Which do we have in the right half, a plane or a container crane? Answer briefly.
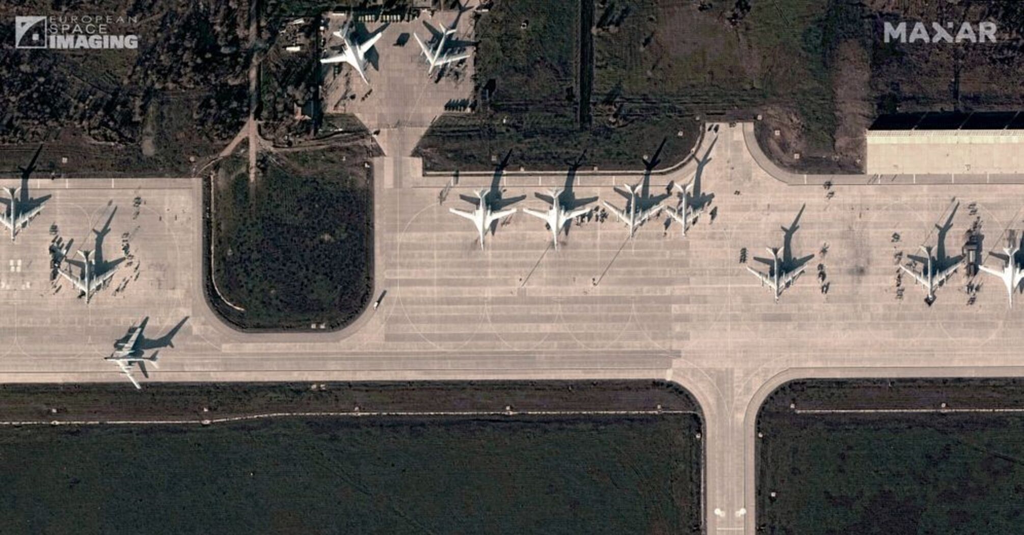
plane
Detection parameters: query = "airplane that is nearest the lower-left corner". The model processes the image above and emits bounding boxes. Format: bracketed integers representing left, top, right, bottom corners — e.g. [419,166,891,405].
[104,330,159,388]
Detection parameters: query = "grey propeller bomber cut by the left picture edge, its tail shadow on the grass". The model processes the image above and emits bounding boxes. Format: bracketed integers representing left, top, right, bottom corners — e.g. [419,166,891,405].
[0,184,42,239]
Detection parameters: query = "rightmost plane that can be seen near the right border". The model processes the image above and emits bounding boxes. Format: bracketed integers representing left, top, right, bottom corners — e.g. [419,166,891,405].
[978,247,1024,306]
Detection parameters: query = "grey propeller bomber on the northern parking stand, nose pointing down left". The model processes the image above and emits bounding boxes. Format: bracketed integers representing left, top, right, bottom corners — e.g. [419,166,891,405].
[414,21,470,74]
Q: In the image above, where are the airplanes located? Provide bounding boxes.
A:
[321,27,382,85]
[978,247,1024,306]
[104,330,159,388]
[0,184,42,239]
[57,249,116,303]
[746,246,805,300]
[414,21,470,74]
[603,180,662,236]
[900,246,959,300]
[523,189,589,248]
[665,180,702,235]
[450,190,516,248]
